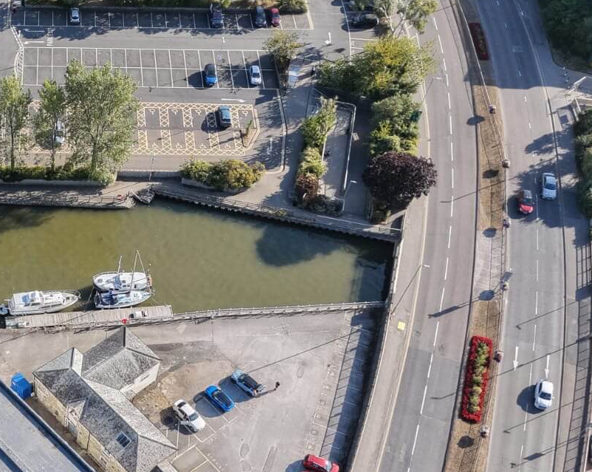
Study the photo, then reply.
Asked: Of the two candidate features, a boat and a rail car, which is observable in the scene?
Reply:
boat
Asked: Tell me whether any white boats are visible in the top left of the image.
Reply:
No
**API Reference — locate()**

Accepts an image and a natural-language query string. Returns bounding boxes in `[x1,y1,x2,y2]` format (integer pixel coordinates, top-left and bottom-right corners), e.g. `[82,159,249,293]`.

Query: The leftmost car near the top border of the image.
[67,7,81,25]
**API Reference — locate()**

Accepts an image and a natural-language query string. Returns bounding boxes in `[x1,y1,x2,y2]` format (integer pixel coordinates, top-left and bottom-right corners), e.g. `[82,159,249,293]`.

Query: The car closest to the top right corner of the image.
[538,172,559,200]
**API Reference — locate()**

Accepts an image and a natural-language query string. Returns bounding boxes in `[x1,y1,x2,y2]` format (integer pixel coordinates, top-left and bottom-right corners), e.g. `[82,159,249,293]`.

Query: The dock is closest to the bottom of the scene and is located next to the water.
[5,299,174,329]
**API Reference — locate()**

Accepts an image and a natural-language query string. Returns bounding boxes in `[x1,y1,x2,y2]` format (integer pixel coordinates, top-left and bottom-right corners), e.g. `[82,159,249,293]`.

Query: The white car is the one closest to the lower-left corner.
[168,397,208,434]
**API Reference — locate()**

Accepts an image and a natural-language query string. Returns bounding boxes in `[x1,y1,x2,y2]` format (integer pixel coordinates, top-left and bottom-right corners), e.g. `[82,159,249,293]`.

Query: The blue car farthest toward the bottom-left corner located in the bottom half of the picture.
[202,382,238,417]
